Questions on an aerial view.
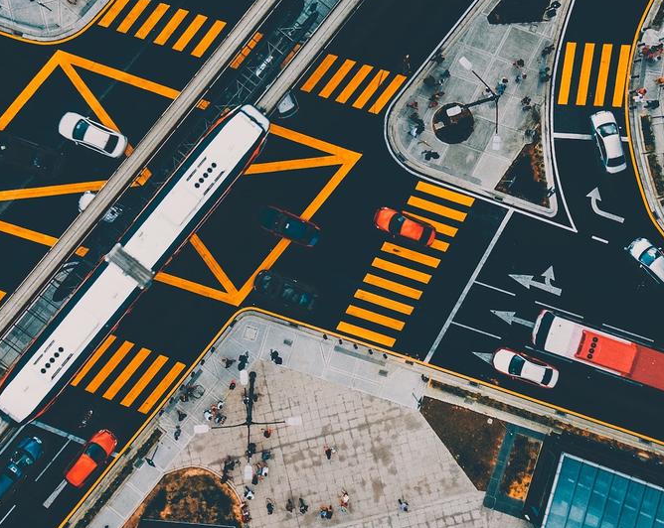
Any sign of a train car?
Yes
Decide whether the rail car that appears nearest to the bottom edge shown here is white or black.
white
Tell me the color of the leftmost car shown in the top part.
black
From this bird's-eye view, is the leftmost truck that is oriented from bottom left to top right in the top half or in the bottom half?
bottom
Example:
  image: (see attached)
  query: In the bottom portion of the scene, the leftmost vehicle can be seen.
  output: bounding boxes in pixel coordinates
[0,433,47,502]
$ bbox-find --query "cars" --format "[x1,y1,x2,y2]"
[255,203,324,248]
[253,267,318,309]
[276,92,300,118]
[65,425,117,487]
[490,346,557,388]
[625,236,664,289]
[585,111,626,173]
[59,112,130,158]
[0,129,60,175]
[374,207,437,246]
